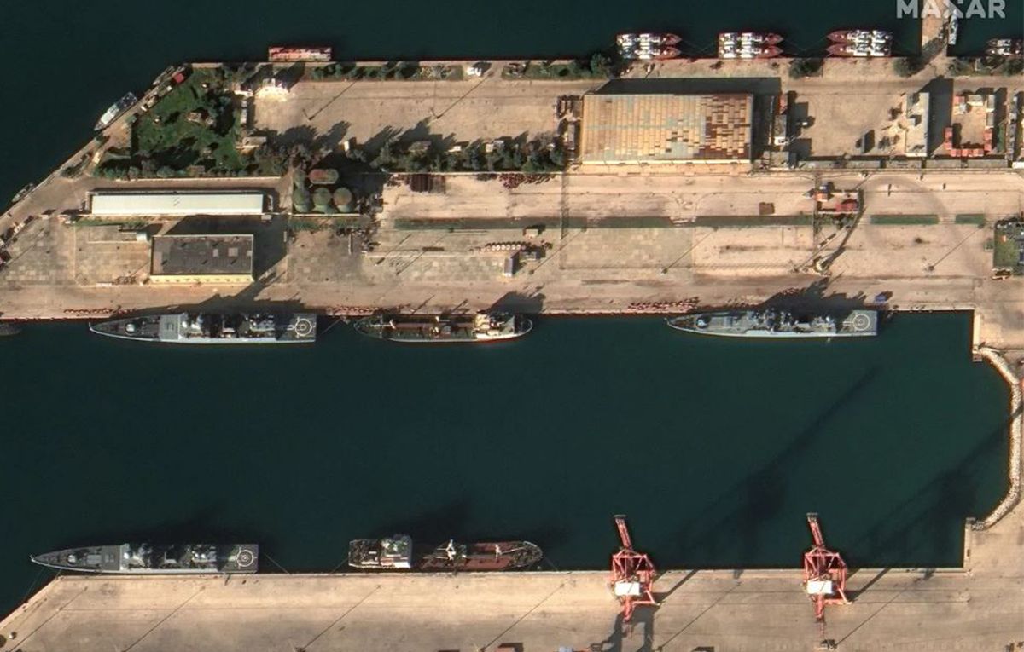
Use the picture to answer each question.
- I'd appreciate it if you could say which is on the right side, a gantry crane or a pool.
gantry crane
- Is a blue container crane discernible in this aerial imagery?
No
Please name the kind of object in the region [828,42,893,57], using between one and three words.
boat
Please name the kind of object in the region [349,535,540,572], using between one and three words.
ship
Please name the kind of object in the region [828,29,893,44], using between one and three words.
boat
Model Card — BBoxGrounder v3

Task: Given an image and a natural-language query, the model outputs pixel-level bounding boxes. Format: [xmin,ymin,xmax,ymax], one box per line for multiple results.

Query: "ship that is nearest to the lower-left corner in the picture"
[30,545,259,575]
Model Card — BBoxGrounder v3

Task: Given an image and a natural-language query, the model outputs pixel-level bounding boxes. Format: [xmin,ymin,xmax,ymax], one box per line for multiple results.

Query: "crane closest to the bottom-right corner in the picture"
[804,515,855,630]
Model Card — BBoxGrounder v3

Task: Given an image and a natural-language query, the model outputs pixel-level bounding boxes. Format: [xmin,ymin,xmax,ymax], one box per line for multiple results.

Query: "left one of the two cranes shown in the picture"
[611,517,663,631]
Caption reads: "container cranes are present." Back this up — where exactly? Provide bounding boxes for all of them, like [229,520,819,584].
[804,515,855,630]
[611,517,663,631]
